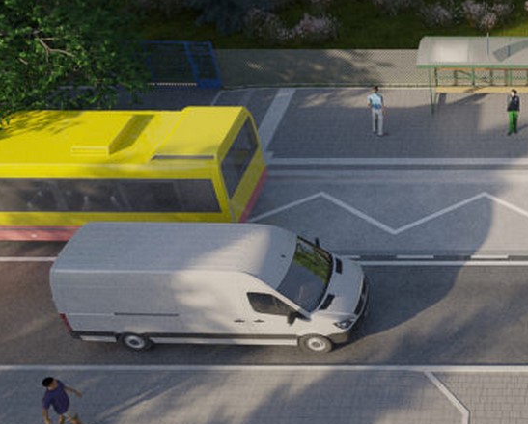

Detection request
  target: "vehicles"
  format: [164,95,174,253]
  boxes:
[0,105,264,240]
[54,222,373,354]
